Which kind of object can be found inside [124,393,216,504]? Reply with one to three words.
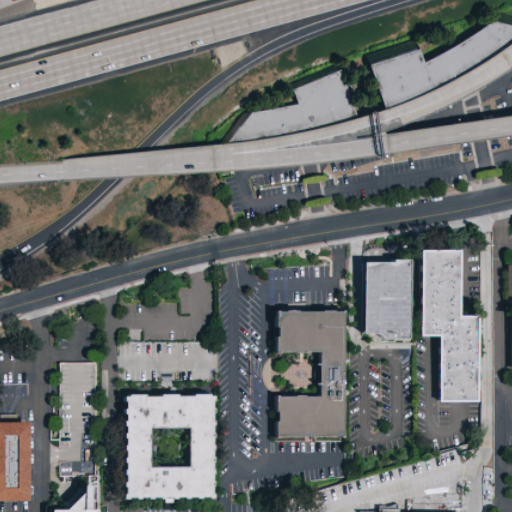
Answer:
building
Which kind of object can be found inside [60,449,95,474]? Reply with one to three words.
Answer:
house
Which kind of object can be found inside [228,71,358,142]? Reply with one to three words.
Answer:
building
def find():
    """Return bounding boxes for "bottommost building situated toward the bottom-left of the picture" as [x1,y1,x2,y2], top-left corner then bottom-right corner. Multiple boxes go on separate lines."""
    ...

[51,474,100,512]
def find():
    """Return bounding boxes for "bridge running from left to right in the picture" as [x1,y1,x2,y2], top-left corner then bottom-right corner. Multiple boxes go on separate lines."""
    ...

[0,44,512,183]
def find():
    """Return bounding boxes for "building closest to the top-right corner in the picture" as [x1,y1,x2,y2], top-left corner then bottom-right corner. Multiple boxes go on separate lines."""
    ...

[370,21,512,108]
